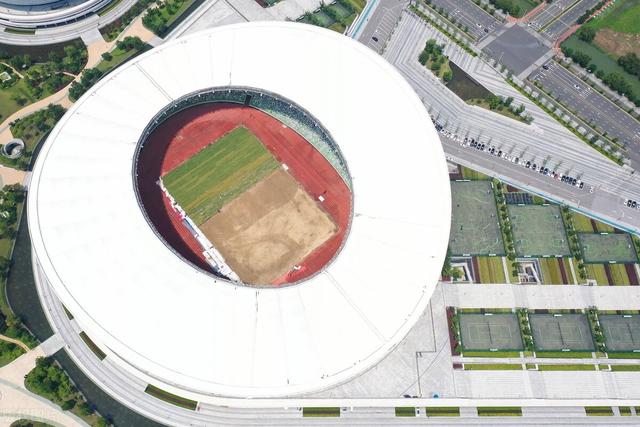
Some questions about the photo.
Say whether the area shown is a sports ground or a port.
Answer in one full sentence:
This looks like a sports ground.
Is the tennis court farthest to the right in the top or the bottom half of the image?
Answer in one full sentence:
The tennis court farthest to the right is in the bottom half of the image.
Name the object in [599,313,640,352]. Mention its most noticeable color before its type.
gray tennis court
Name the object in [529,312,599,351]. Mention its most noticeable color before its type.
gray tennis court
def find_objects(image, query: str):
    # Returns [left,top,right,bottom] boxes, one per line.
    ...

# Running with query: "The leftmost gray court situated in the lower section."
[458,311,526,351]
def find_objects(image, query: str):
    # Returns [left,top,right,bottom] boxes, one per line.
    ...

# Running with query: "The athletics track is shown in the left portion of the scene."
[138,103,346,284]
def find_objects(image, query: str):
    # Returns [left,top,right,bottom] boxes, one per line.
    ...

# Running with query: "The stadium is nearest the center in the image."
[28,20,452,400]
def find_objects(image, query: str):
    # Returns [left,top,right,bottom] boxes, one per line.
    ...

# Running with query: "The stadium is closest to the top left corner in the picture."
[0,0,136,47]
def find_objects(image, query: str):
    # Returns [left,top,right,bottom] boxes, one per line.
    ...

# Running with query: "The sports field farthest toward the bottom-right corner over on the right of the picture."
[577,231,640,264]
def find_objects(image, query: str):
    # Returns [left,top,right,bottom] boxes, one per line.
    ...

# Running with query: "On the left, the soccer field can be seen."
[160,124,338,284]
